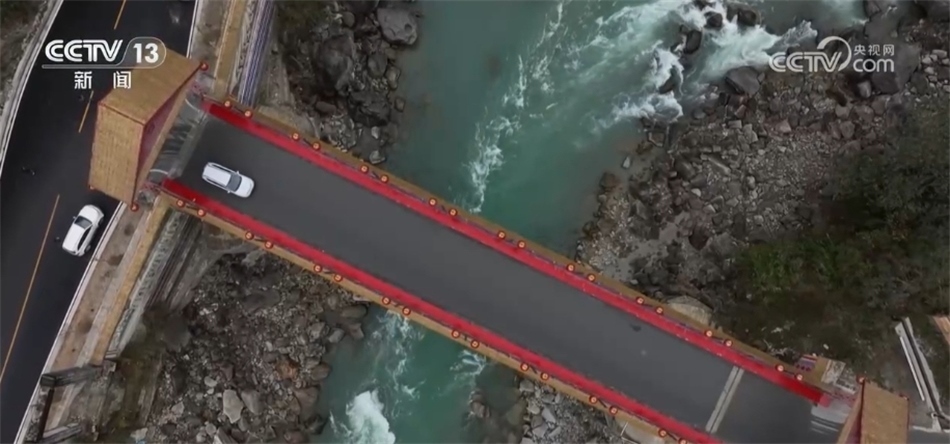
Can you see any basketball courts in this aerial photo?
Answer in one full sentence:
No, this view has no basketball court in it.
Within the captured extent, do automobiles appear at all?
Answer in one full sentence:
Yes, there's an automobile down there.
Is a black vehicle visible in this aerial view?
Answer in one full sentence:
No, the photo shows no black vehicle.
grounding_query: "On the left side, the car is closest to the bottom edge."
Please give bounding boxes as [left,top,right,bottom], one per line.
[63,204,109,258]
